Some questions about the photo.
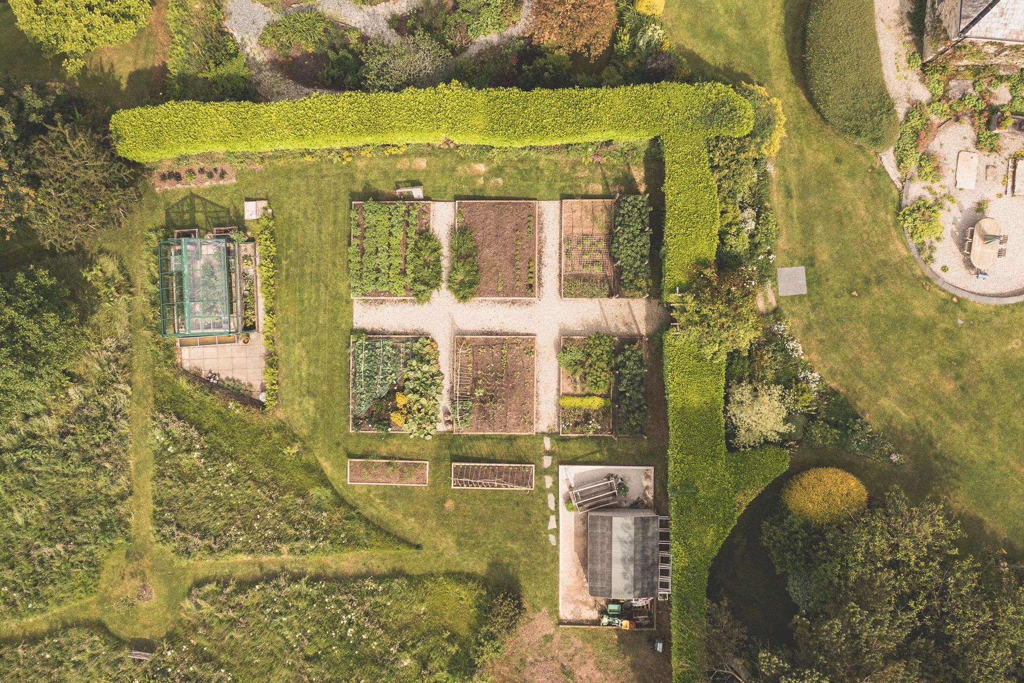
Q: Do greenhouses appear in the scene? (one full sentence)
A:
Yes, looking at the shot, I can spot a greenhouse.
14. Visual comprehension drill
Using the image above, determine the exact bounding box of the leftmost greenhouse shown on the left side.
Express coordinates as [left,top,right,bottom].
[158,235,239,339]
